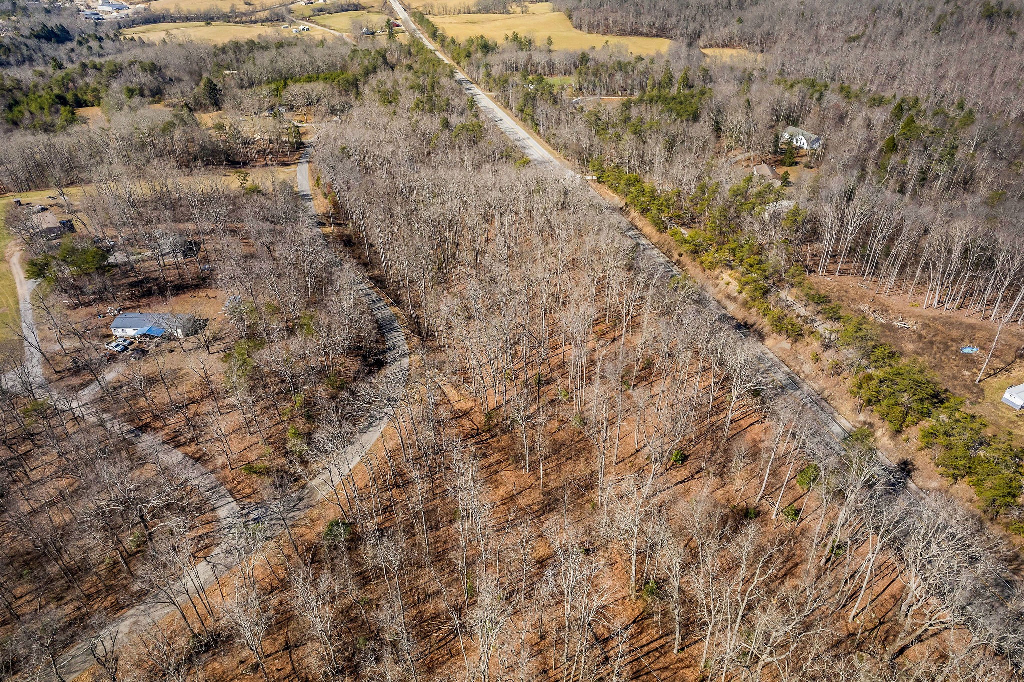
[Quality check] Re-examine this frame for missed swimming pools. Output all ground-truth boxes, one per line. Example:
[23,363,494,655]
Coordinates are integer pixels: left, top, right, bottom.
[960,343,983,355]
